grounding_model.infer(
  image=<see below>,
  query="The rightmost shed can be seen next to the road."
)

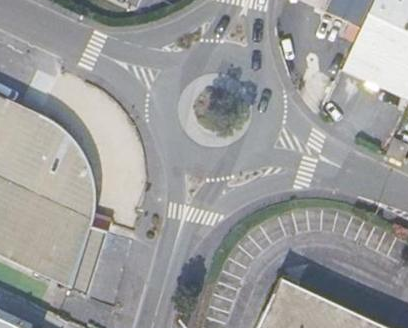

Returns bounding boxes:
[386,136,408,168]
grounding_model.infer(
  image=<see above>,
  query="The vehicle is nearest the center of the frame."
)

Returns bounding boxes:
[258,90,270,110]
